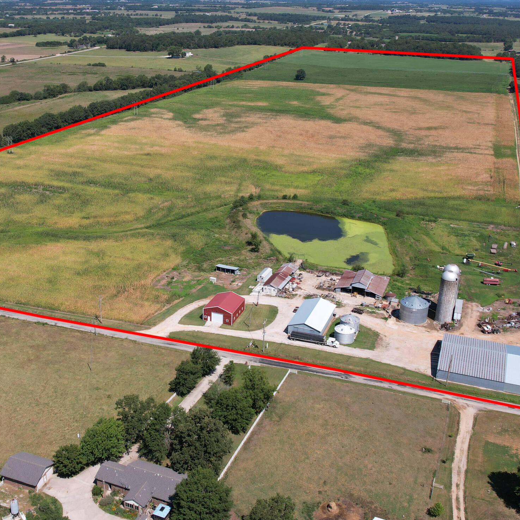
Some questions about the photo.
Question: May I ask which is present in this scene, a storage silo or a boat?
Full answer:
The one in the frame is a storage silo.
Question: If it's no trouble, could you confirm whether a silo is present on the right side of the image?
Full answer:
Yes, a silo appears on the right side of the image.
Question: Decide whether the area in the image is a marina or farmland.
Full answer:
This image shows farmland.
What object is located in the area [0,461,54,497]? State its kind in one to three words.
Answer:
building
